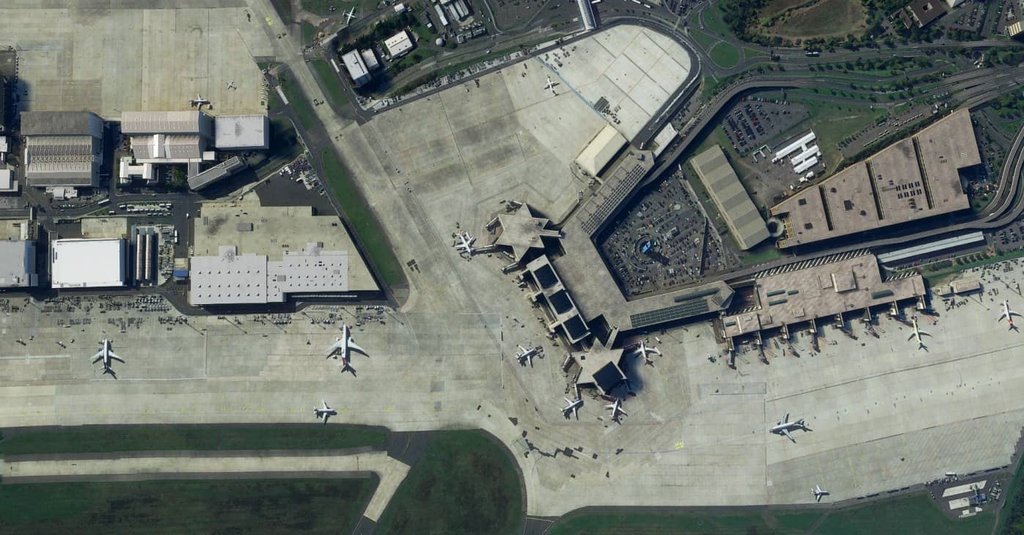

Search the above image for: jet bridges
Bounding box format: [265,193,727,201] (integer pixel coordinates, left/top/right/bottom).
[753,330,770,365]
[469,243,497,253]
[779,325,800,359]
[484,216,500,230]
[602,393,616,403]
[622,342,641,352]
[834,312,858,342]
[806,319,821,354]
[914,296,942,317]
[561,353,572,373]
[507,199,523,205]
[725,337,737,371]
[500,261,519,273]
[500,249,513,259]
[861,307,881,339]
[888,301,916,328]
[625,378,637,397]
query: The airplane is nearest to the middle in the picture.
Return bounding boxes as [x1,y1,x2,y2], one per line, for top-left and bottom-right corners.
[452,231,473,254]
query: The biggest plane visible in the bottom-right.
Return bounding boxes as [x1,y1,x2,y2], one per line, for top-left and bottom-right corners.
[769,409,806,441]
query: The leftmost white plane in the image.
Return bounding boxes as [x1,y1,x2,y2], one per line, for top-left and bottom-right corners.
[89,338,122,369]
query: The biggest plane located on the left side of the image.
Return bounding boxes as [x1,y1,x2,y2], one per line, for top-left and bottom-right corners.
[323,325,365,368]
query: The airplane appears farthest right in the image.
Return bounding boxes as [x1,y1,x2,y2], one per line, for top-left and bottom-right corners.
[998,300,1023,327]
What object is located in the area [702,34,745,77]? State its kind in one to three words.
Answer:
roundabout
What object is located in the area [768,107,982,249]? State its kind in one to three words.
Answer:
building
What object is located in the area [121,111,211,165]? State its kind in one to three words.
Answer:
hangar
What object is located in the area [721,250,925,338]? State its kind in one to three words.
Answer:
building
